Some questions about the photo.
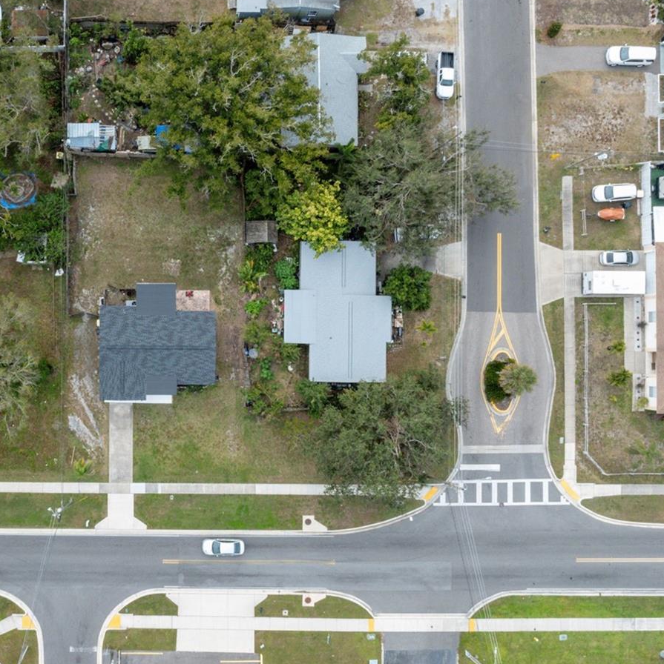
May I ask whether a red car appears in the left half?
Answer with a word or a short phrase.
No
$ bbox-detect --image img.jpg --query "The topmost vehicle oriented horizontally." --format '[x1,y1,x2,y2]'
[605,44,658,66]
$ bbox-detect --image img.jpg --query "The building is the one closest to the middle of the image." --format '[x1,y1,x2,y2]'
[284,242,391,382]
